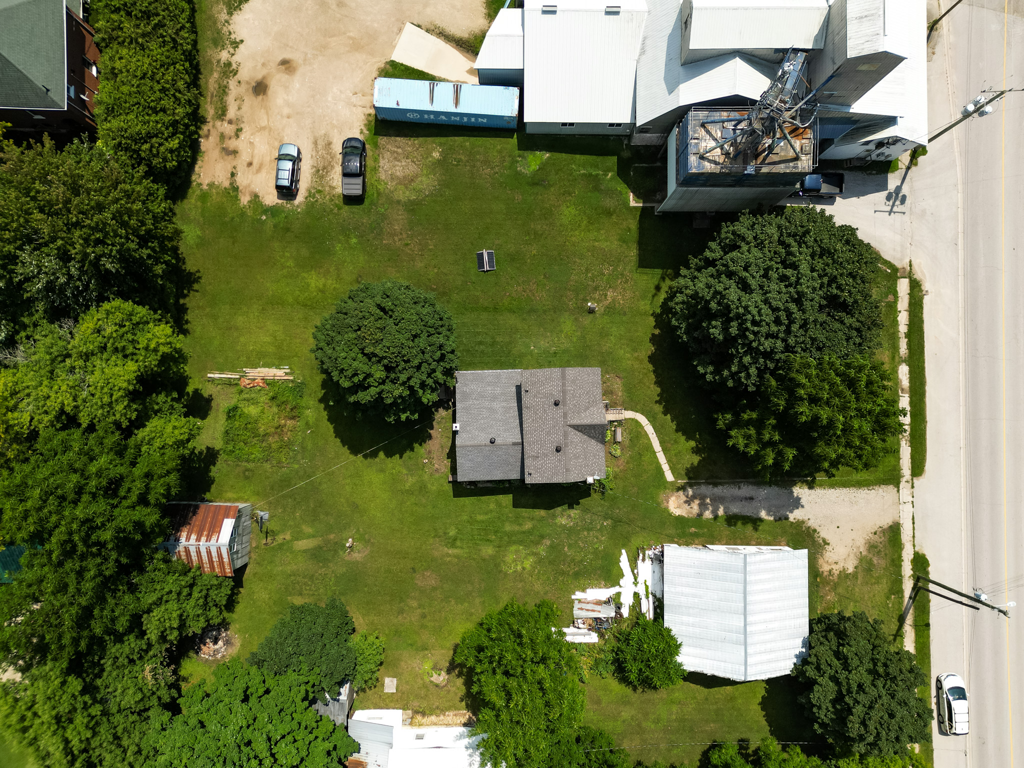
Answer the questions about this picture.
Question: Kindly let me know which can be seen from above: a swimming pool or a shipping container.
shipping container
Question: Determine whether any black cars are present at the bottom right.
No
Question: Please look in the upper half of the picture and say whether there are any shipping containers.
Yes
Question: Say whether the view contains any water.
No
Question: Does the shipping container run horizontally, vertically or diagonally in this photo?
horizontally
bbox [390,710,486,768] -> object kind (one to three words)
house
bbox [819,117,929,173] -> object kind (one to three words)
building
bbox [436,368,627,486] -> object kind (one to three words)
house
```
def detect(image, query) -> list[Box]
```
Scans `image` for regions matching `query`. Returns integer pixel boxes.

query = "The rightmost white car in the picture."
[940,678,973,737]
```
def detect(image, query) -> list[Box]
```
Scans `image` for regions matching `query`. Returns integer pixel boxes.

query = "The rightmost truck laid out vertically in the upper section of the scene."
[340,136,368,199]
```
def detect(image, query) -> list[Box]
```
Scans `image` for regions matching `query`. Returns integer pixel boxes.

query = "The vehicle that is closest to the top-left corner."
[273,142,300,194]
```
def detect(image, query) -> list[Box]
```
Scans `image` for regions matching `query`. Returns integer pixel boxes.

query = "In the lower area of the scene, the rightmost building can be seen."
[659,540,805,685]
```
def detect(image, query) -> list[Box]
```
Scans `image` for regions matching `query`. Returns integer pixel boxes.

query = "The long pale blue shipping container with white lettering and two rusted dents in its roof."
[373,77,520,128]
